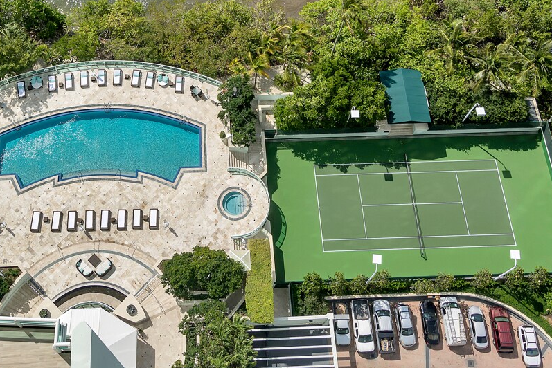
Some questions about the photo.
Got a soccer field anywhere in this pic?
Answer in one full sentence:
No, the picture doesn't show any soccer field.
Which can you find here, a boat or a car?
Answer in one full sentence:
Looking from above, you can make out a car.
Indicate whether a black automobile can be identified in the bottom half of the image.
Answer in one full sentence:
Yes, looking in the bottom half of the image, one can make out a black automobile.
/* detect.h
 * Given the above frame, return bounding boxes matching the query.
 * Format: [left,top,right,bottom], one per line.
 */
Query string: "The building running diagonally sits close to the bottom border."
[60,307,137,368]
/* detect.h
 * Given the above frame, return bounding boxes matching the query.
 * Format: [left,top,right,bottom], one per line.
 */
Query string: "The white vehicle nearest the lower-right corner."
[516,325,541,368]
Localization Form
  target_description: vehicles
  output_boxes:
[466,306,490,349]
[372,300,396,354]
[332,300,354,345]
[489,307,515,353]
[352,300,374,352]
[393,301,417,347]
[439,298,466,346]
[418,301,441,345]
[516,325,541,368]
